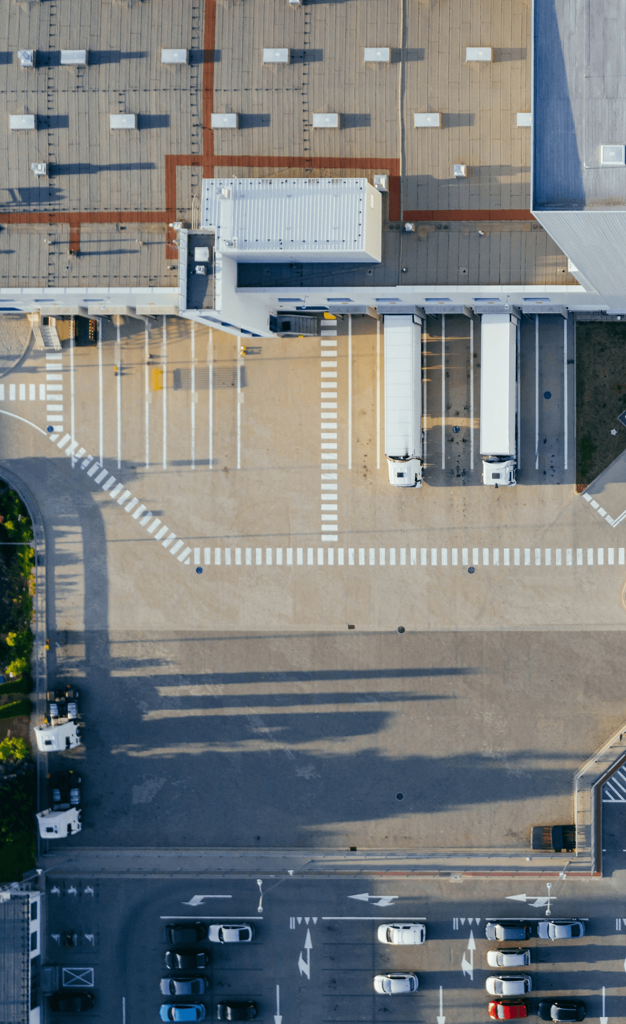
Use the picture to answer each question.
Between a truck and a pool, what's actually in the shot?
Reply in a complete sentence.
I can see a truck in this picture.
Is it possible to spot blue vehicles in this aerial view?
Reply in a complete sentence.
Yes, the frame does contain a blue vehicle.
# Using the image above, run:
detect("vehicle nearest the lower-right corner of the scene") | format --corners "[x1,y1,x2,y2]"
[539,998,586,1024]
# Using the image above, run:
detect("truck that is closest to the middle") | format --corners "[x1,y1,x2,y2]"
[387,457,424,489]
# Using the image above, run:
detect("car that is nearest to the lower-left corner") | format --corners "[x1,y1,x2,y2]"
[50,990,98,1015]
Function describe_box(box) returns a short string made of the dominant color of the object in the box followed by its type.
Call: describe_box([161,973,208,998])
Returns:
blue car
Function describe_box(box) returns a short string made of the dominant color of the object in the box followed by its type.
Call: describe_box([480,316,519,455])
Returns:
white trailer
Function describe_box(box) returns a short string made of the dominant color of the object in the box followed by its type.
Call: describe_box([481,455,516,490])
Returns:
white truck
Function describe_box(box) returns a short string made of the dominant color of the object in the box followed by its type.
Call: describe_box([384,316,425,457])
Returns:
white trailer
